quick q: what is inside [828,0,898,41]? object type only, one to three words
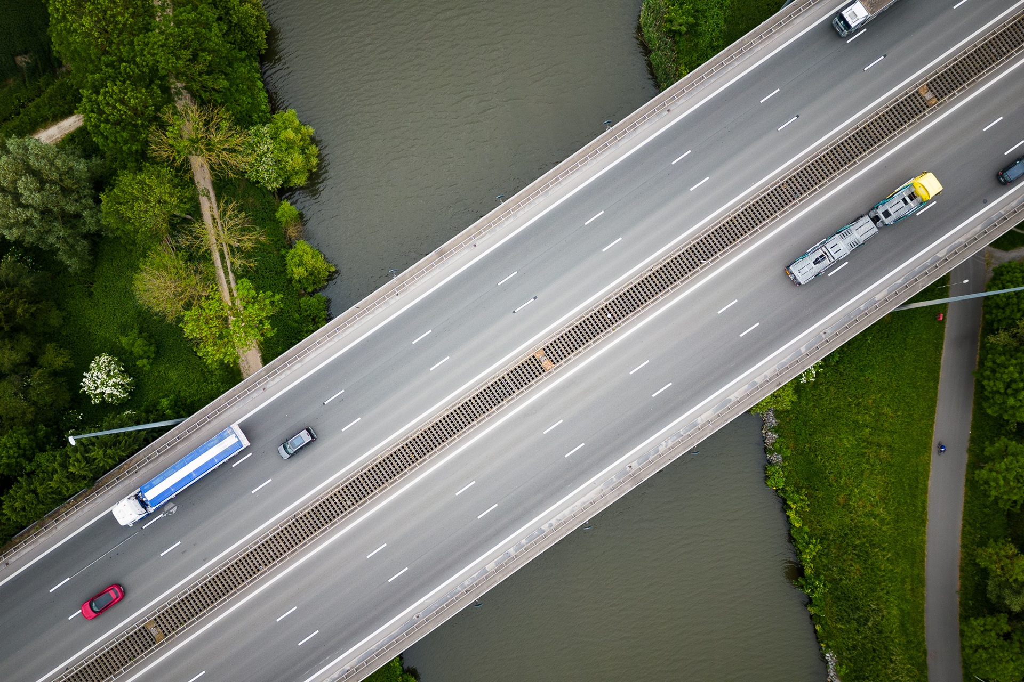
truck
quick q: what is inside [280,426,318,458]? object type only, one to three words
car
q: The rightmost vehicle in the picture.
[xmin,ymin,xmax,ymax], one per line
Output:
[996,156,1024,186]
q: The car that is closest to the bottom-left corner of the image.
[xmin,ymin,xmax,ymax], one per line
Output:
[83,583,125,619]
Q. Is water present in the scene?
Yes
